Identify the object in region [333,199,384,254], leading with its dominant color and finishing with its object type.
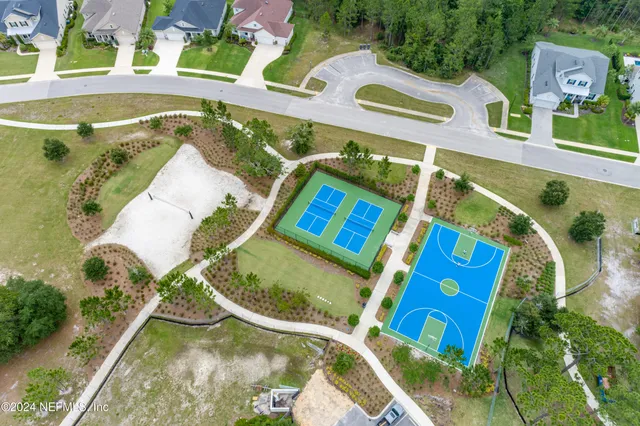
blue sports court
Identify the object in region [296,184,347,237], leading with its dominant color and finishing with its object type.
blue sports court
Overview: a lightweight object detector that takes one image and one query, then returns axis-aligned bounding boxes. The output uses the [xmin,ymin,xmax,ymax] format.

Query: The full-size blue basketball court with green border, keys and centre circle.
[381,222,511,373]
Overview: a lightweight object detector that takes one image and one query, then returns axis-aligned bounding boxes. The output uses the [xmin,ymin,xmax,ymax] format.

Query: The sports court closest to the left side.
[79,143,265,282]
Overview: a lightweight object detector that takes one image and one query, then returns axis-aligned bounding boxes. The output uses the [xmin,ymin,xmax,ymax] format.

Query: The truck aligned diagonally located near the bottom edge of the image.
[375,402,406,426]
